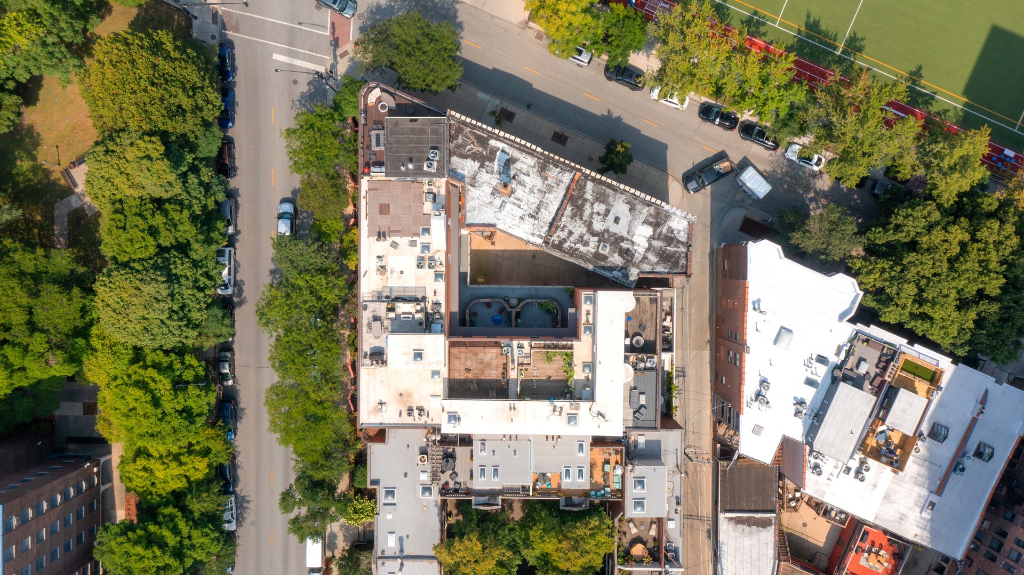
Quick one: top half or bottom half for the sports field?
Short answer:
top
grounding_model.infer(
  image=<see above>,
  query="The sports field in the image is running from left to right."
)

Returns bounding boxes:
[673,0,1024,157]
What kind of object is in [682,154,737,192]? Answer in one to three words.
truck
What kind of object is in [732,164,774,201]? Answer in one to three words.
trailer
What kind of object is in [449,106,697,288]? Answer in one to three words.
building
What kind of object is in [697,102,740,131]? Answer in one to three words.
car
